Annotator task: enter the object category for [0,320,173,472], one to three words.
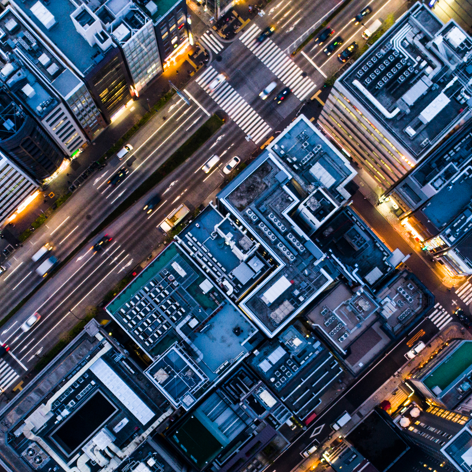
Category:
building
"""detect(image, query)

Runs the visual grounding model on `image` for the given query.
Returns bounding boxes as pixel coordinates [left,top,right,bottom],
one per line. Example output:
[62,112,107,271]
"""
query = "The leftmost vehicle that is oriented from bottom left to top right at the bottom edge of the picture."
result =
[302,443,319,460]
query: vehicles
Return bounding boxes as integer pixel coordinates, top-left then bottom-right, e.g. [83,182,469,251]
[94,233,111,251]
[224,156,242,174]
[115,143,134,161]
[407,342,425,359]
[24,311,41,328]
[302,443,319,460]
[0,345,9,358]
[33,245,51,262]
[324,38,343,55]
[274,87,292,104]
[353,6,371,24]
[202,155,220,173]
[316,28,333,45]
[144,195,162,212]
[455,309,472,327]
[330,411,353,430]
[161,204,189,231]
[111,167,128,186]
[203,77,220,95]
[259,82,276,99]
[360,14,384,41]
[34,254,59,278]
[284,418,297,431]
[256,27,274,44]
[0,264,8,276]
